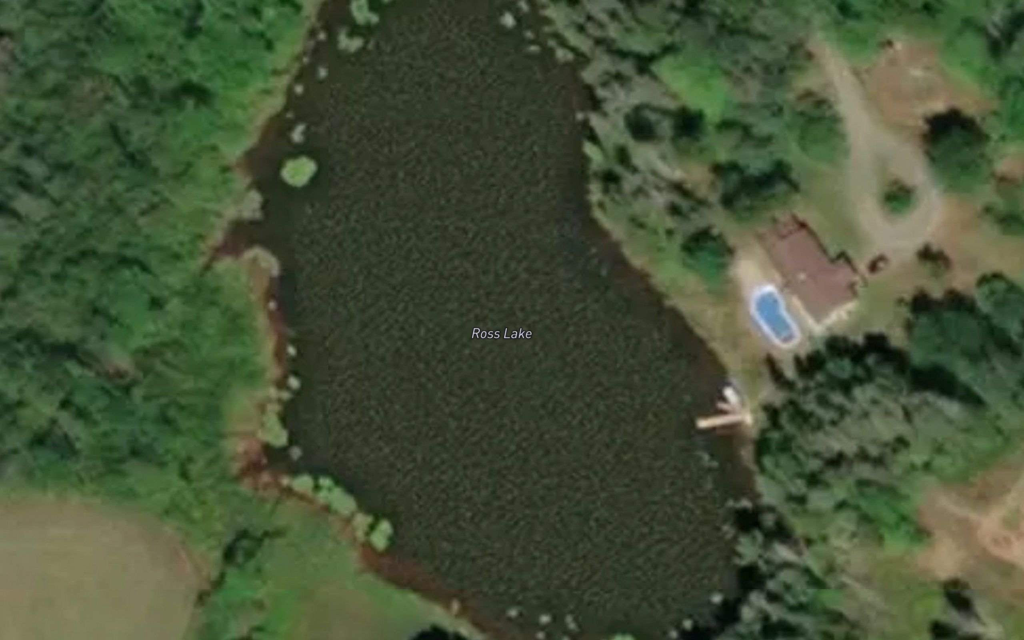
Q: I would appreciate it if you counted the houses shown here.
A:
1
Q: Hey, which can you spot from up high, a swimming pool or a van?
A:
swimming pool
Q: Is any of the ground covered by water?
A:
Yes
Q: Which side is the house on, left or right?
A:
right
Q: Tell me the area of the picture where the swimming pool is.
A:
right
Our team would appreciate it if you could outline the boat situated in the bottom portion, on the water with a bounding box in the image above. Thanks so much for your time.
[722,383,739,407]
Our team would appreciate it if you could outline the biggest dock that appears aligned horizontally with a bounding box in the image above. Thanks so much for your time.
[696,408,758,428]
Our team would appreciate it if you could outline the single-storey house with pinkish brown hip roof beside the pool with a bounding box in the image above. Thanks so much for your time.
[760,221,857,323]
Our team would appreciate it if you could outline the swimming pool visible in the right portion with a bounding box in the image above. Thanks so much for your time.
[750,284,801,348]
